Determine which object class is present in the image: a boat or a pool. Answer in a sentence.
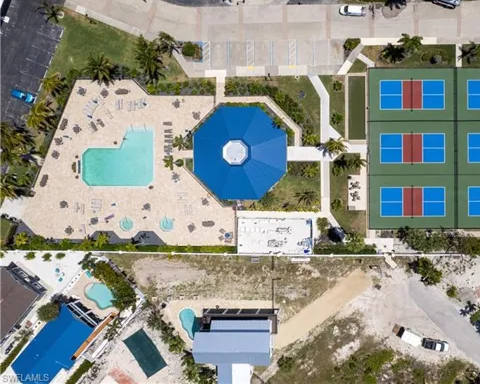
Visible in the photo is a pool.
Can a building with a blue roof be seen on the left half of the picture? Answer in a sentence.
Yes, on the left half of the picture there is a building with a blue roof.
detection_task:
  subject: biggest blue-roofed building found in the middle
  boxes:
[193,106,287,199]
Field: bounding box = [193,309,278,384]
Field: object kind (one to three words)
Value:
house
